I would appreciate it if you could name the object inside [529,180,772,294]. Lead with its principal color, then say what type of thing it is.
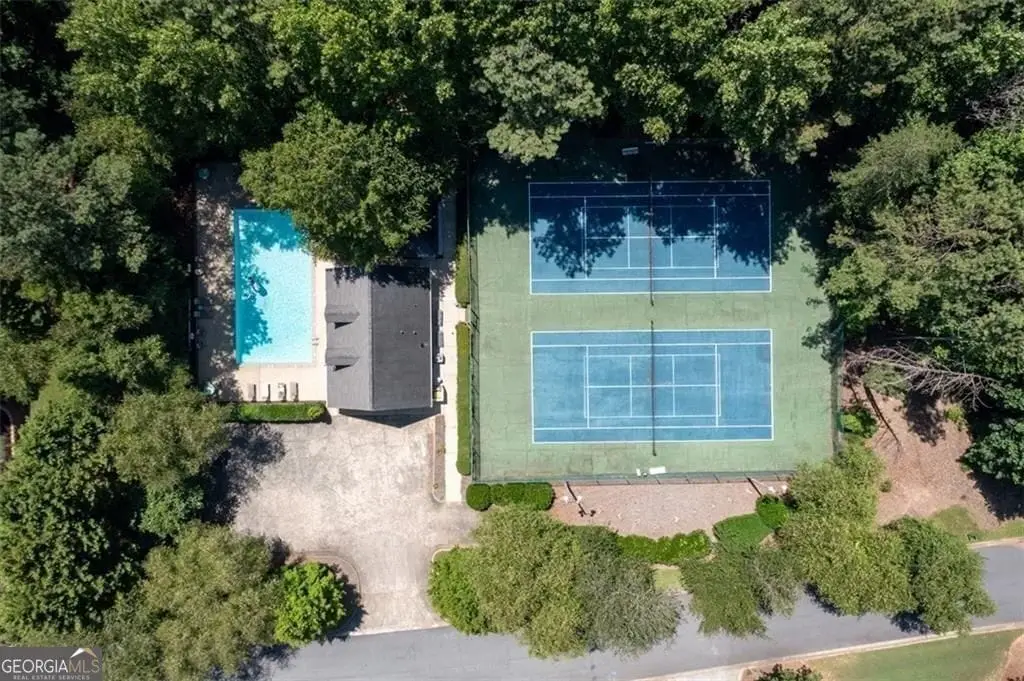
blue tennis court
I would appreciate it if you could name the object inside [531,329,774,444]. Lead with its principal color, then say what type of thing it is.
blue tennis court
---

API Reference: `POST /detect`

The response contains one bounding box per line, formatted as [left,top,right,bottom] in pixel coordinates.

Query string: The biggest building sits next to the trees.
[324,264,433,410]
